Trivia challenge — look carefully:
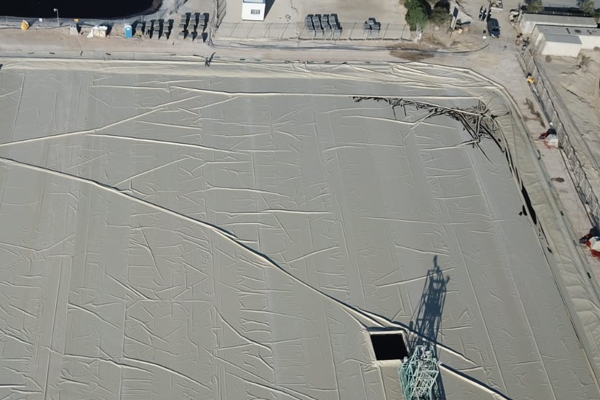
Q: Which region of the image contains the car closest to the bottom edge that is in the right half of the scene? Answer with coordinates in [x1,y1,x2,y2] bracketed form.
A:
[486,16,504,36]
